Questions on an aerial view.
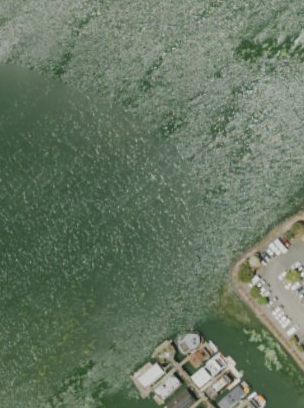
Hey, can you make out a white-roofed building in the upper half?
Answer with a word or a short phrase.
No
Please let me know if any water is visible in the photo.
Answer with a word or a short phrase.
Yes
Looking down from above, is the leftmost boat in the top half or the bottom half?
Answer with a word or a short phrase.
bottom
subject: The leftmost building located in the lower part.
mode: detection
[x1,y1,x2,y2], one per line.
[130,360,164,396]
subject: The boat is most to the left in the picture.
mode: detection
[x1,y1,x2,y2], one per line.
[180,332,204,354]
